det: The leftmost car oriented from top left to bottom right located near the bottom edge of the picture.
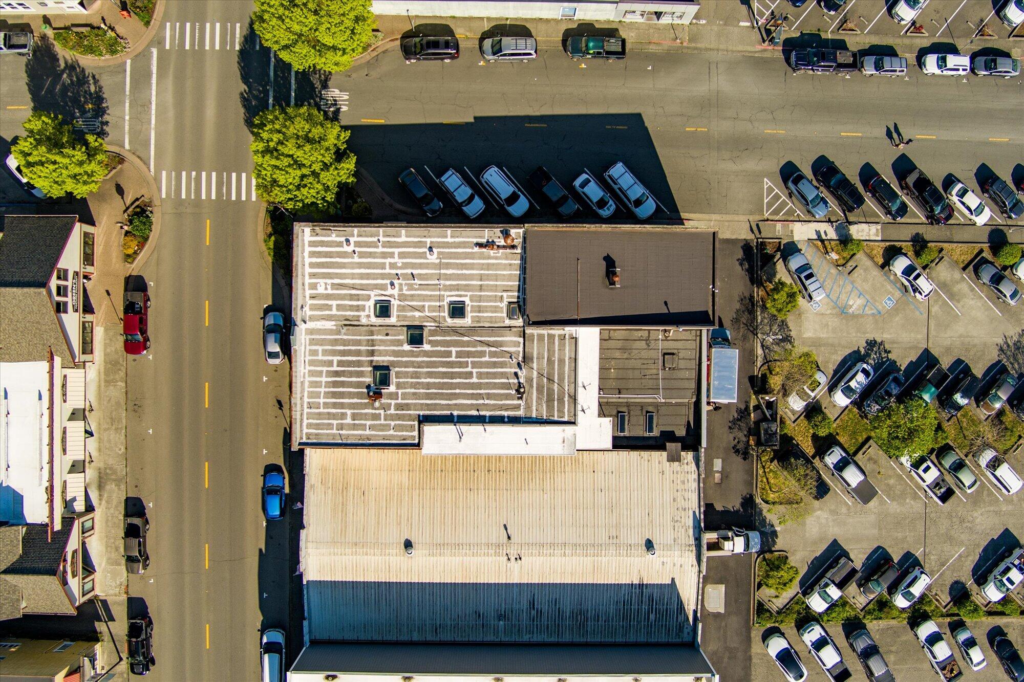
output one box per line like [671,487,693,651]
[761,630,811,682]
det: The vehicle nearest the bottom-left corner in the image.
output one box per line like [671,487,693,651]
[124,615,155,676]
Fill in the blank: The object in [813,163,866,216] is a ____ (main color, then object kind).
black car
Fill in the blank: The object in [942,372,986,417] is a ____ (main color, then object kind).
black car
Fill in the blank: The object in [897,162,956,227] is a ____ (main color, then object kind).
black truck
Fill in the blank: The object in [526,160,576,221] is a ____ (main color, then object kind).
black truck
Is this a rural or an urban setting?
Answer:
urban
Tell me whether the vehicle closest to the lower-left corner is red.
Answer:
No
